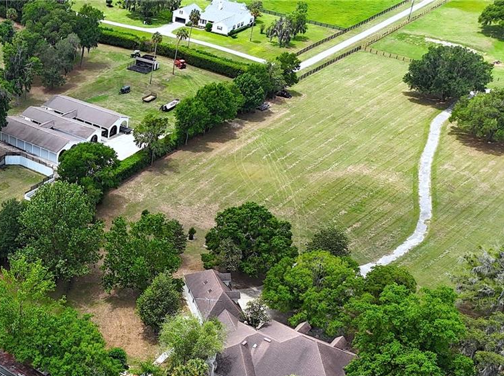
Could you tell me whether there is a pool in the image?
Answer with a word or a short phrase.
No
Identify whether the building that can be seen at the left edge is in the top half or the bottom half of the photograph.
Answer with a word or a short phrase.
top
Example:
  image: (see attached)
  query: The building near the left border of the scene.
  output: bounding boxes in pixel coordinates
[0,93,135,164]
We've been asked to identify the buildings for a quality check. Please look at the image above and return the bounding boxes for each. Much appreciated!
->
[0,93,135,164]
[173,5,269,36]
[136,58,162,70]
[183,268,376,376]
